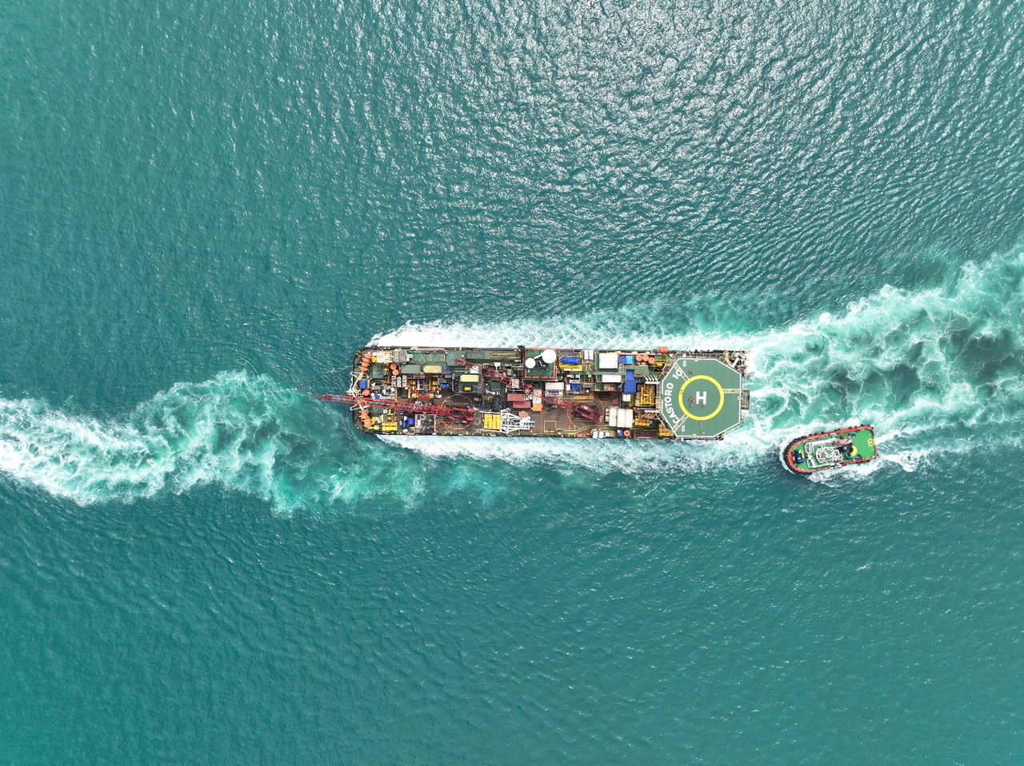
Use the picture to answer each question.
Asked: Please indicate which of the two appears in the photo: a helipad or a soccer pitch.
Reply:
helipad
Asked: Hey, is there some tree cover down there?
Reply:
No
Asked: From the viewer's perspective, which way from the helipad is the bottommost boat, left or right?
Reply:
to the right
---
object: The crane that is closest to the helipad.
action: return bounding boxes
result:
[455,357,606,427]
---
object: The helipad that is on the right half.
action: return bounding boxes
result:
[658,355,744,441]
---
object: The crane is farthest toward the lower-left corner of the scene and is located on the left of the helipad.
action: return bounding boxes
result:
[313,394,474,423]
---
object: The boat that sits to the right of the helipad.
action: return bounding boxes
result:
[780,426,878,470]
